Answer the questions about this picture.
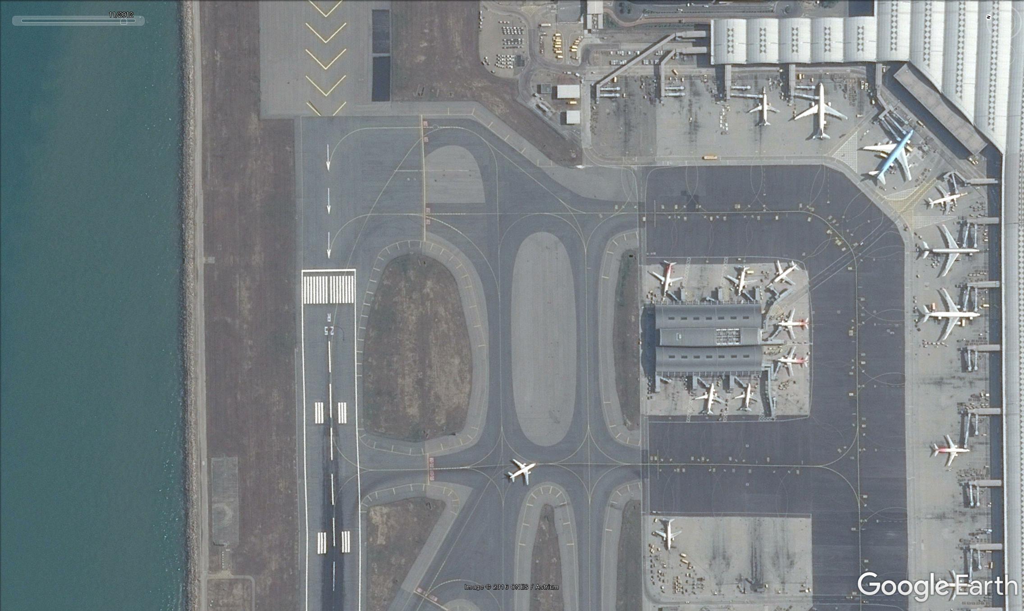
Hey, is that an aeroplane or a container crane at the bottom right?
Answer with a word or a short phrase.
aeroplane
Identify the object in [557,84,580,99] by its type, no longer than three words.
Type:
shed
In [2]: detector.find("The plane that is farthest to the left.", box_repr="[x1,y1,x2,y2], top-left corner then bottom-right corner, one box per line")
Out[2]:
[507,460,536,486]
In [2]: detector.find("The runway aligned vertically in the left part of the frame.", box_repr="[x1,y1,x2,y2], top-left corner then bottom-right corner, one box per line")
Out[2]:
[294,116,428,611]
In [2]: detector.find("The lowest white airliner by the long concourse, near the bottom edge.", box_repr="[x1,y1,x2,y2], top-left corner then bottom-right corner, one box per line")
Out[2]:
[939,570,972,600]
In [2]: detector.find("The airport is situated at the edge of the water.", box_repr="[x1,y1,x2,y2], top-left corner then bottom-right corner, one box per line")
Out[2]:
[260,0,1006,611]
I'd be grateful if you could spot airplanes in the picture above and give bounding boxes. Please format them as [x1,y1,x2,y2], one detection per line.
[795,83,848,139]
[653,261,683,300]
[767,261,799,288]
[657,519,683,551]
[777,346,809,376]
[736,384,760,411]
[777,308,809,339]
[750,87,780,125]
[924,289,980,340]
[923,225,980,276]
[727,265,758,296]
[868,130,915,185]
[695,384,726,414]
[929,185,967,214]
[935,435,970,465]
[507,460,536,486]
[939,570,972,600]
